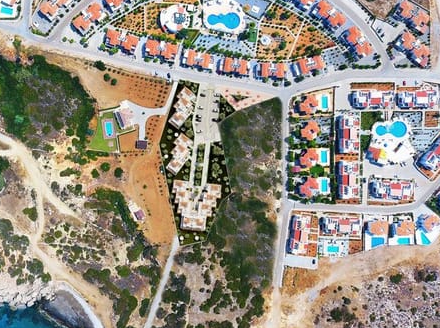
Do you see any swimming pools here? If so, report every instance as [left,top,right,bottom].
[106,121,113,135]
[320,150,327,162]
[321,179,328,192]
[321,94,328,109]
[327,244,340,252]
[375,120,408,138]
[420,231,433,245]
[207,12,241,30]
[397,237,410,245]
[371,237,385,247]
[0,5,14,16]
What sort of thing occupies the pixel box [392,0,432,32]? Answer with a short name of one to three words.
house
